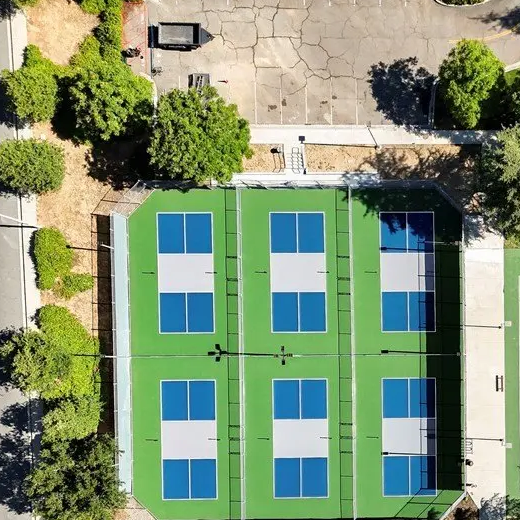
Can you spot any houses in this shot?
No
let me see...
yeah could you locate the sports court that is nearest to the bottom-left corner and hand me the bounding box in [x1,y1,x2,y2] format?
[130,354,244,520]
